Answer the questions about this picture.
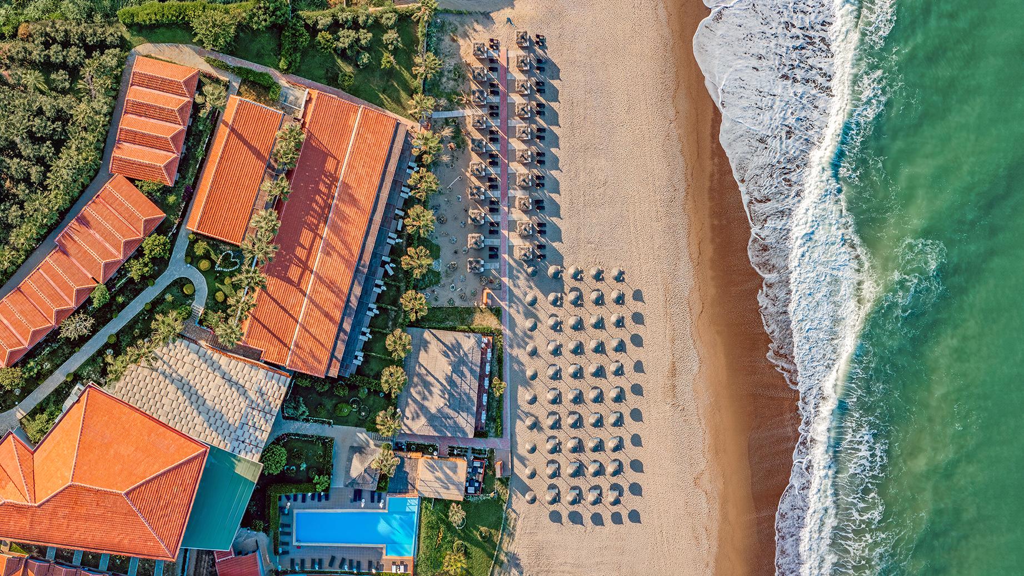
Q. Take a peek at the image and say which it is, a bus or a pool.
pool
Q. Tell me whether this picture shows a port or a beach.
beach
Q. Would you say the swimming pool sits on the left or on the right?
left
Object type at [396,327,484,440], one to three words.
building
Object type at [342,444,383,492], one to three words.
gazebo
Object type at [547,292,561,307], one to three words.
umbrella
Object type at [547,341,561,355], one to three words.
umbrella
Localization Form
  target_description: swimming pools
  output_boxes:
[292,496,420,558]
